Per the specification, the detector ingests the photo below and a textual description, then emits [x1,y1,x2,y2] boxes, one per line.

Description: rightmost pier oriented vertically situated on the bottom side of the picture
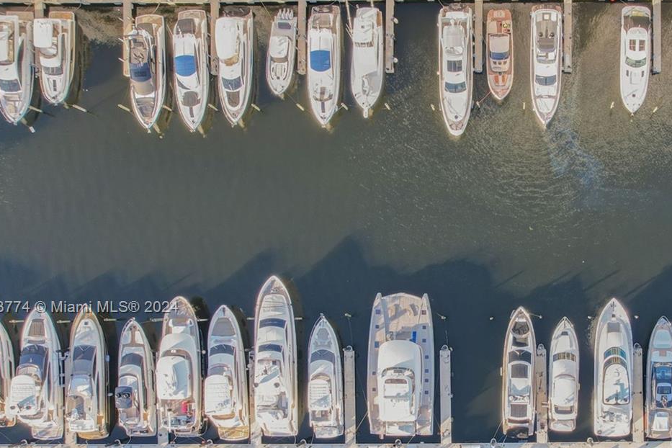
[633,348,645,441]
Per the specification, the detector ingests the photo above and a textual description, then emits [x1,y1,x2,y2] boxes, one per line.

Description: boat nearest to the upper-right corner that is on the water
[612,0,654,115]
